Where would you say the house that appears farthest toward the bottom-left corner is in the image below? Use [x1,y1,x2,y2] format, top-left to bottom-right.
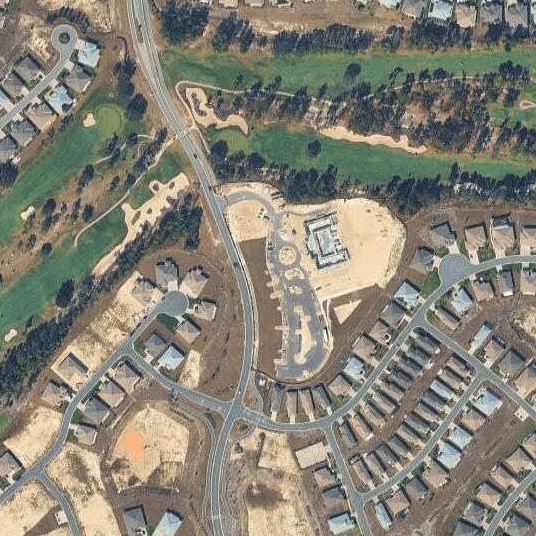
[0,451,21,480]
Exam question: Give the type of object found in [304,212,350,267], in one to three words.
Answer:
building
